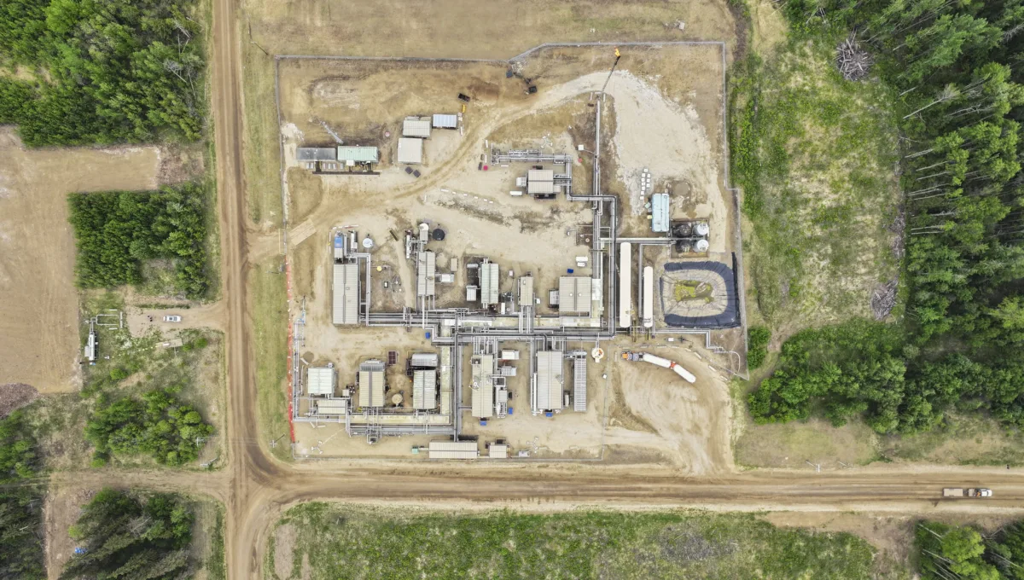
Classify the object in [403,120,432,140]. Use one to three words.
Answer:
shed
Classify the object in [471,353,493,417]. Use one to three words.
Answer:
building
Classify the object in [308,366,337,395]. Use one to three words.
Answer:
building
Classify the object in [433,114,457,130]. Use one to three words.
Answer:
shed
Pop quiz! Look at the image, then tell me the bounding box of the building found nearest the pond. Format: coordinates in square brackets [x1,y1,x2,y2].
[649,193,669,232]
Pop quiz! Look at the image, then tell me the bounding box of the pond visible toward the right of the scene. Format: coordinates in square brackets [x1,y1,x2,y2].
[661,253,742,330]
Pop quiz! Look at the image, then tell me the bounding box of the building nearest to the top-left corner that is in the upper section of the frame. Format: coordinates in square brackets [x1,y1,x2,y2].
[338,145,379,168]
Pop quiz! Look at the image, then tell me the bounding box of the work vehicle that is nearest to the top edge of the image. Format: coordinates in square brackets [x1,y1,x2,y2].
[517,73,538,94]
